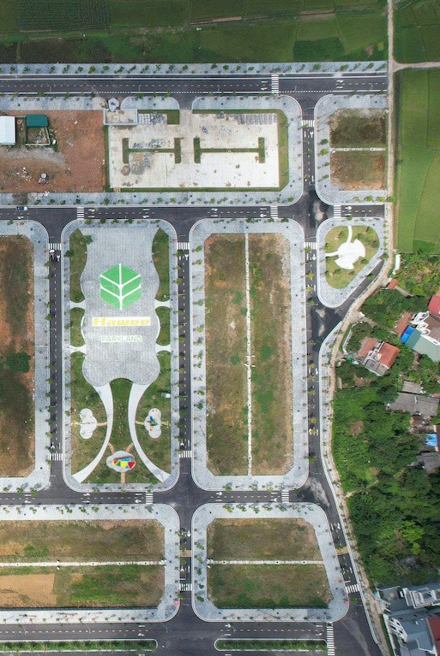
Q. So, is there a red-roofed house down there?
Yes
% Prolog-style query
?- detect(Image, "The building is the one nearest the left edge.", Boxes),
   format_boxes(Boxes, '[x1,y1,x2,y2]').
[0,116,16,145]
